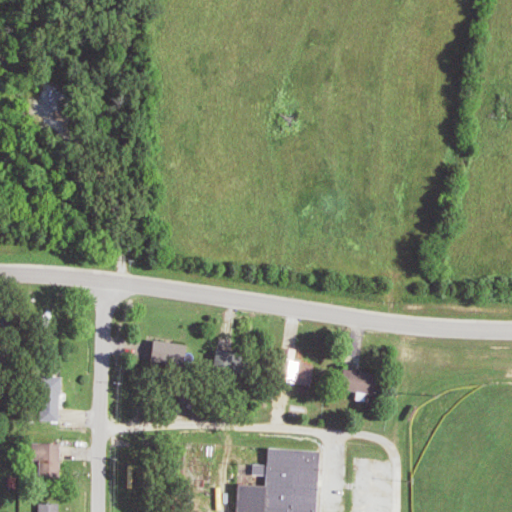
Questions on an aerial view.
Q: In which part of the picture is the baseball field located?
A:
bottom right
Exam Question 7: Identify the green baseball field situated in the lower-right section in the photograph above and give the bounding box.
[410,382,512,512]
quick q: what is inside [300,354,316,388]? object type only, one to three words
house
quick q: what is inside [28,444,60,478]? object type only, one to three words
house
